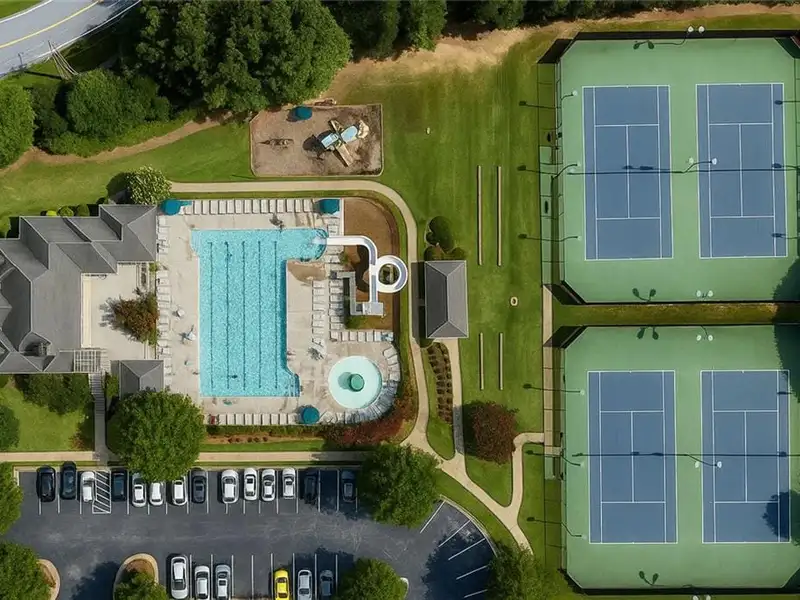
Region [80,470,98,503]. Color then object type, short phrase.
white car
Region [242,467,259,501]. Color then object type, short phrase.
white car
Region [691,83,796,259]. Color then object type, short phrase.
blue tennis court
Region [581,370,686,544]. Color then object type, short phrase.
blue tennis court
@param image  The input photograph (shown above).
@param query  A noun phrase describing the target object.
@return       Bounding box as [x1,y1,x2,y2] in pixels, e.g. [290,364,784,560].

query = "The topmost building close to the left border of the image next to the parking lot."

[0,204,158,373]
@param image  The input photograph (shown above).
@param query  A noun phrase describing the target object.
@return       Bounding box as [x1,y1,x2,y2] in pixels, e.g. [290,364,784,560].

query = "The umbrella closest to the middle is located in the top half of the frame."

[320,196,340,216]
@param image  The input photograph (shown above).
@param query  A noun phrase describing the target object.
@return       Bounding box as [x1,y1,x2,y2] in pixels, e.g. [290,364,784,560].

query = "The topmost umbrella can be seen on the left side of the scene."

[295,105,312,122]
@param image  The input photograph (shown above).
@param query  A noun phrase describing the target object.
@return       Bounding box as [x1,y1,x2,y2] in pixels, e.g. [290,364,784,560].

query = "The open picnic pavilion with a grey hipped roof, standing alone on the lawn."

[424,260,469,339]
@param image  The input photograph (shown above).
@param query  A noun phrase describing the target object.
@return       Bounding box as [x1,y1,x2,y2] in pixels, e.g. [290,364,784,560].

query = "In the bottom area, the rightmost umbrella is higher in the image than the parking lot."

[302,405,319,423]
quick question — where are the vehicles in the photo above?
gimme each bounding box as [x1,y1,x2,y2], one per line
[194,565,211,600]
[110,468,129,503]
[170,554,190,598]
[130,473,148,507]
[280,467,296,499]
[214,563,232,600]
[242,467,259,501]
[59,461,79,500]
[273,567,291,600]
[171,471,188,505]
[302,469,319,505]
[36,466,58,504]
[297,568,313,600]
[80,470,98,503]
[220,469,240,504]
[148,479,165,506]
[191,468,208,505]
[320,568,335,600]
[260,468,277,502]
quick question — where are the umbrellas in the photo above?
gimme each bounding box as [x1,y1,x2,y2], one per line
[320,196,340,216]
[302,405,319,423]
[163,198,182,216]
[295,105,312,122]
